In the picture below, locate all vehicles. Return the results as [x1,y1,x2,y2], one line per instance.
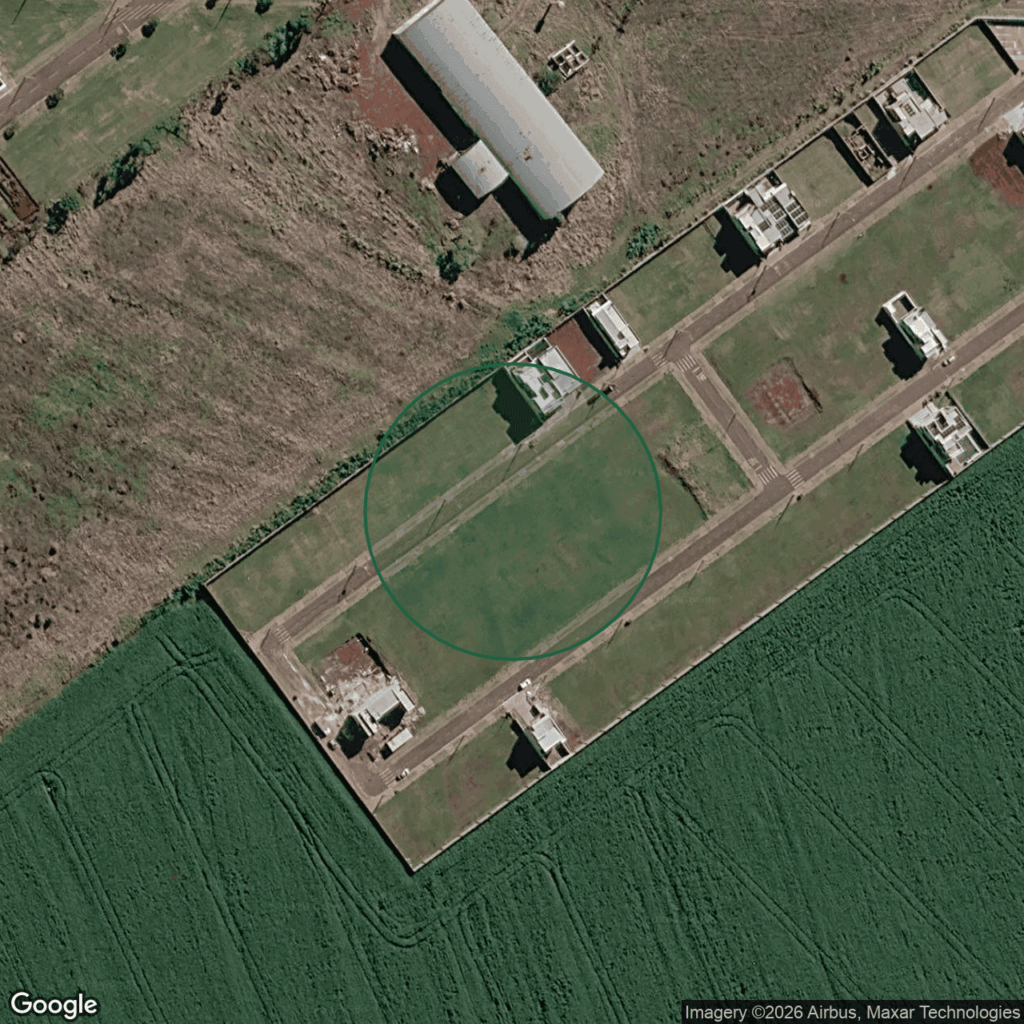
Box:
[604,385,616,395]
[519,678,532,690]
[945,355,957,366]
[397,769,409,779]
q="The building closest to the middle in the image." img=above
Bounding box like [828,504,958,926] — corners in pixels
[512,341,581,417]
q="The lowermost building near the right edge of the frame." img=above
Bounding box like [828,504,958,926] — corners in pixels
[909,402,982,476]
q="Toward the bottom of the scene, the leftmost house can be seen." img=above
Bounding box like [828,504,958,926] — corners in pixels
[348,687,414,736]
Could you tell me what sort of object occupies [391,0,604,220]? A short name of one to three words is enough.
warehouse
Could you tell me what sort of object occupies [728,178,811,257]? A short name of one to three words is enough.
house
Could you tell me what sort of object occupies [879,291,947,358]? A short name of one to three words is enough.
house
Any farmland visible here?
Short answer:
Yes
